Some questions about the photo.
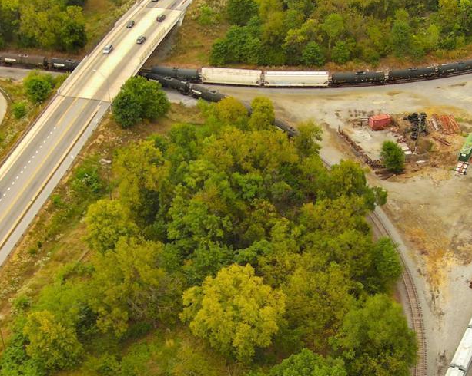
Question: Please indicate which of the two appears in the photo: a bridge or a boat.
bridge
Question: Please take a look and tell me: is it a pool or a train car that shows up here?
train car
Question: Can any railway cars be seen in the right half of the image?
Yes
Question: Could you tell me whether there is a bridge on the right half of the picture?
No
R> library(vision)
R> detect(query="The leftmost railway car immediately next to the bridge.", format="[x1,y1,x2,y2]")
[5,48,53,67]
